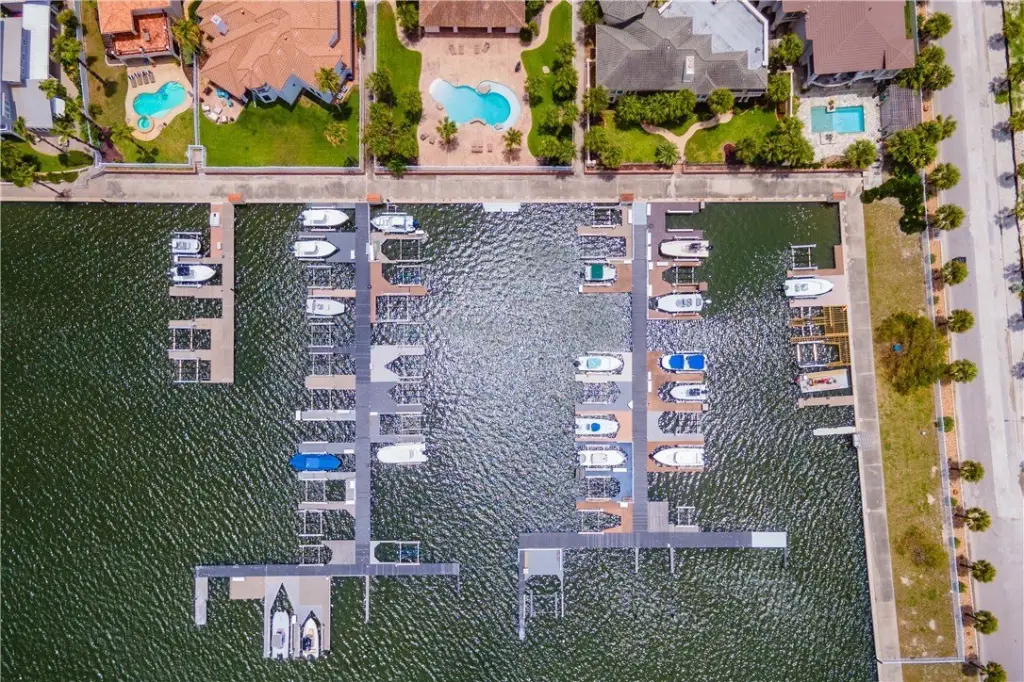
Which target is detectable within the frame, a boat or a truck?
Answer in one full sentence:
This aerial view contains a boat.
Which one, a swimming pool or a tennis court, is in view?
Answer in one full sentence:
It is a swimming pool that can be seen here.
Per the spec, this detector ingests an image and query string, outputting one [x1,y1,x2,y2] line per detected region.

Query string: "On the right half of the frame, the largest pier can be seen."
[519,203,786,548]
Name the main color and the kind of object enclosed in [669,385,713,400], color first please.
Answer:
white boat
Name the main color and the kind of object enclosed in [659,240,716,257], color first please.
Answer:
white boat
